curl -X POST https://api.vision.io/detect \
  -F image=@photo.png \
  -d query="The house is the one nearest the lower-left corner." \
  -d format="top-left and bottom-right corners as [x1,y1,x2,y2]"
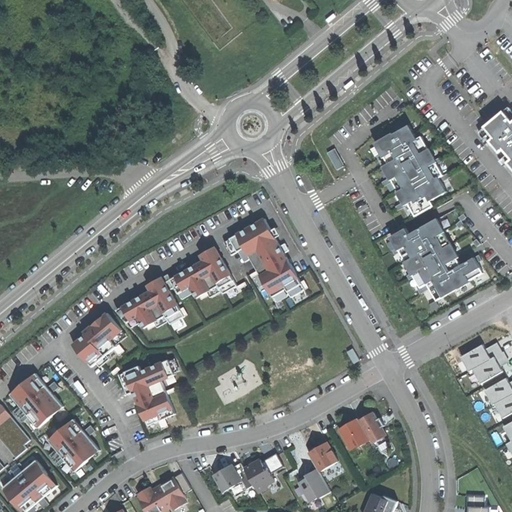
[2,461,62,512]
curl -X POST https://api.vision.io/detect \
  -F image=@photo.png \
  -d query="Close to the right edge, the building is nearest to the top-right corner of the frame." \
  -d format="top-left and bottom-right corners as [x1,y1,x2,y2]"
[475,108,512,172]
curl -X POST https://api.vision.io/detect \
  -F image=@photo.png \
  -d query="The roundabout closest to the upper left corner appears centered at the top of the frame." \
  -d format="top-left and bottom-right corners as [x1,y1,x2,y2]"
[225,98,279,152]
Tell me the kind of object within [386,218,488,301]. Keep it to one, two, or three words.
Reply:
building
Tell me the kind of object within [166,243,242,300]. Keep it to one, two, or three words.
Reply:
house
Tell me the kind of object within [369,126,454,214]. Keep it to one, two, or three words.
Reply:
building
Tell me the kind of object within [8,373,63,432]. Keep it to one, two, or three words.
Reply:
house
